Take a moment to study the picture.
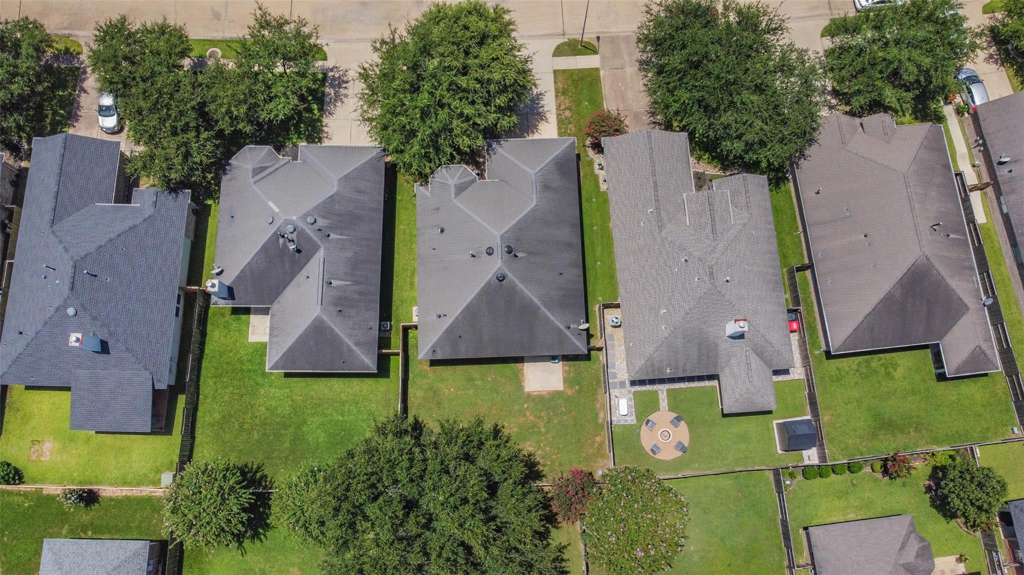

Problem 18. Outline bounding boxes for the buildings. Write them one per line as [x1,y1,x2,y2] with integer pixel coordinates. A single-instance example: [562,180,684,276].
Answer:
[0,152,24,299]
[210,144,387,374]
[602,130,795,415]
[784,113,1001,378]
[0,133,198,433]
[776,418,820,452]
[415,137,588,360]
[797,513,935,575]
[39,537,163,575]
[958,89,1024,276]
